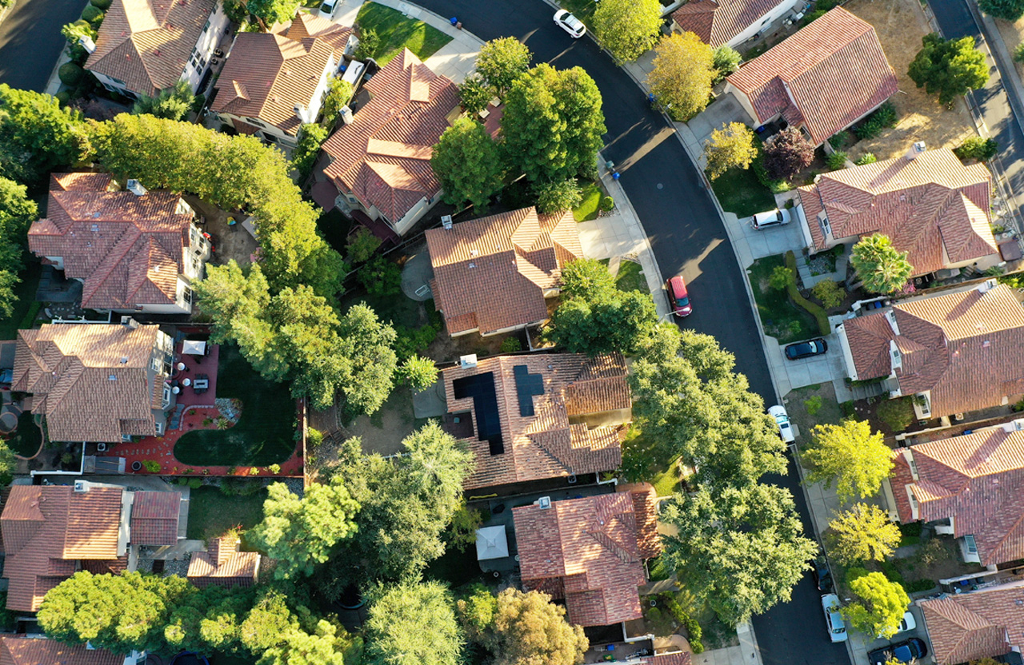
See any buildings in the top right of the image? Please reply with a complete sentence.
Yes, looking in the top right of the image, one can make out a building.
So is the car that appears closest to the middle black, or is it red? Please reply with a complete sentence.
The car that appears closest to the middle is red.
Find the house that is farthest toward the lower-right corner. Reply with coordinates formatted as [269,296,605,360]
[907,580,1024,665]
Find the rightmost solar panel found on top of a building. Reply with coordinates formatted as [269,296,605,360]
[514,364,545,416]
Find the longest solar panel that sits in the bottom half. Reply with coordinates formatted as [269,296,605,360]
[452,372,503,456]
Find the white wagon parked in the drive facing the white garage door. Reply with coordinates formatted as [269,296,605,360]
[749,205,793,230]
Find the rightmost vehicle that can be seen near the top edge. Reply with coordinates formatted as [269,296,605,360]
[550,7,587,41]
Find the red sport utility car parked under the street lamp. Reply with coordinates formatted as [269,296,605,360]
[666,274,693,318]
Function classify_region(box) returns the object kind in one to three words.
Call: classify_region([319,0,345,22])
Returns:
car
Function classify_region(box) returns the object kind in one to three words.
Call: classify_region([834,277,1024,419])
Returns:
house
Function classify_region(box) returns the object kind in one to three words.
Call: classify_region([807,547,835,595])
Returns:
car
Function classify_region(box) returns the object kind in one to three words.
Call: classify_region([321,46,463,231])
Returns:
house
